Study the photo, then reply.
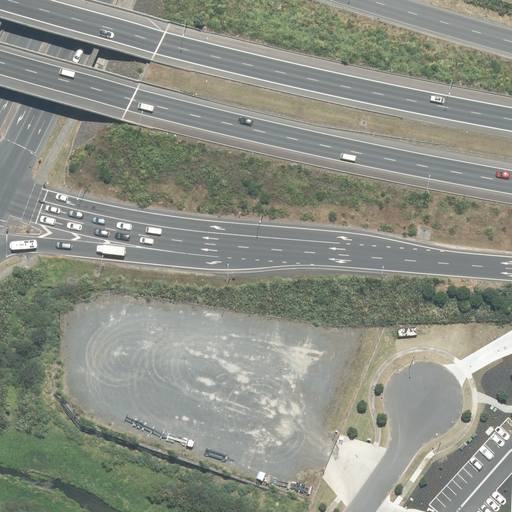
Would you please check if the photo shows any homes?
No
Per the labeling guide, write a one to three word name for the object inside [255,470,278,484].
vehicle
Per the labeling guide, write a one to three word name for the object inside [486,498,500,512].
car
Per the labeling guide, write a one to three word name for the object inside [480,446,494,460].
car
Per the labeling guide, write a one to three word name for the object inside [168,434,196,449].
vehicle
